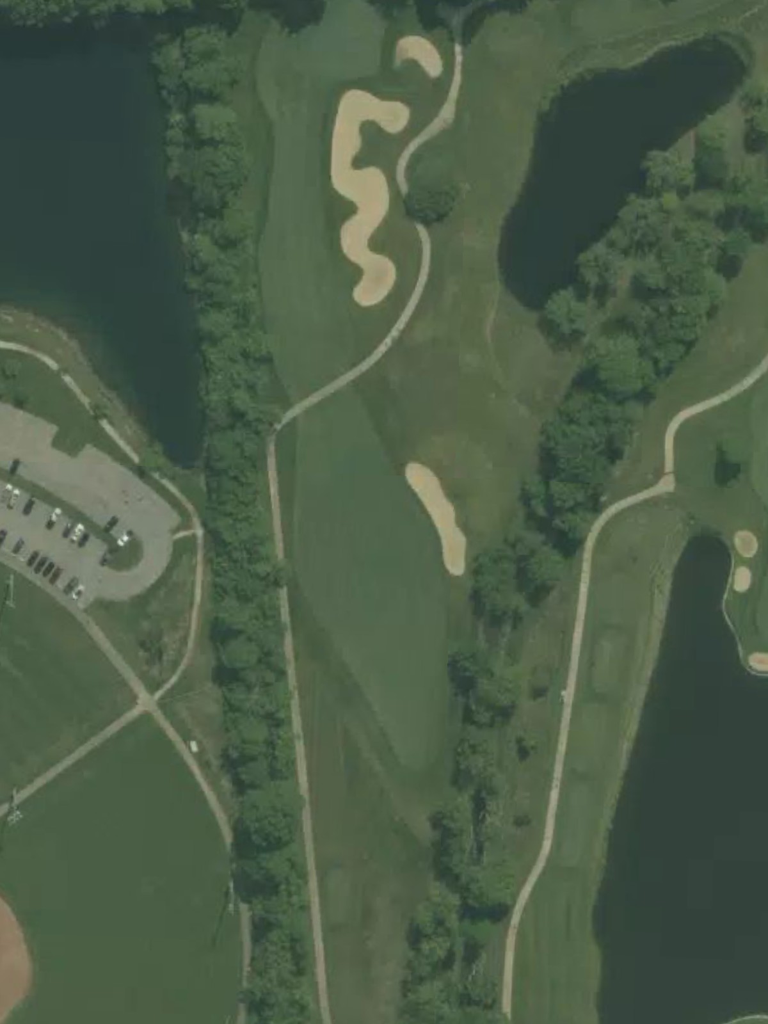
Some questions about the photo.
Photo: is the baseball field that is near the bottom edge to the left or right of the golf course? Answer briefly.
to the left of it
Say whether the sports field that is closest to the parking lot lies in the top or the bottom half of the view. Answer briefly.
bottom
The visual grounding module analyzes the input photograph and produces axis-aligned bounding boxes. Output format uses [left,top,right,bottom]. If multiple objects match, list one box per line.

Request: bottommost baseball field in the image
[0,710,239,1024]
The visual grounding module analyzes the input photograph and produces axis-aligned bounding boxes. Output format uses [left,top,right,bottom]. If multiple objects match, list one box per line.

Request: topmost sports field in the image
[0,566,138,796]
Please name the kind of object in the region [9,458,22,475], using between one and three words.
vehicle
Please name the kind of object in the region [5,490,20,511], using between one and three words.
vehicle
